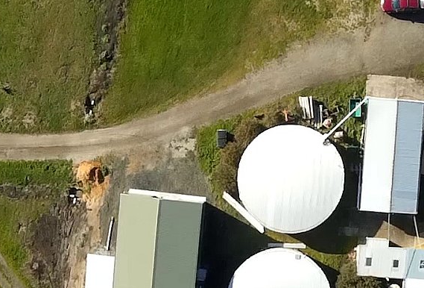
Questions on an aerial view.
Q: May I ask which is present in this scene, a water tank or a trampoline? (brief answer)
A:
water tank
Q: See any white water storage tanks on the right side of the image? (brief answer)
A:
Yes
